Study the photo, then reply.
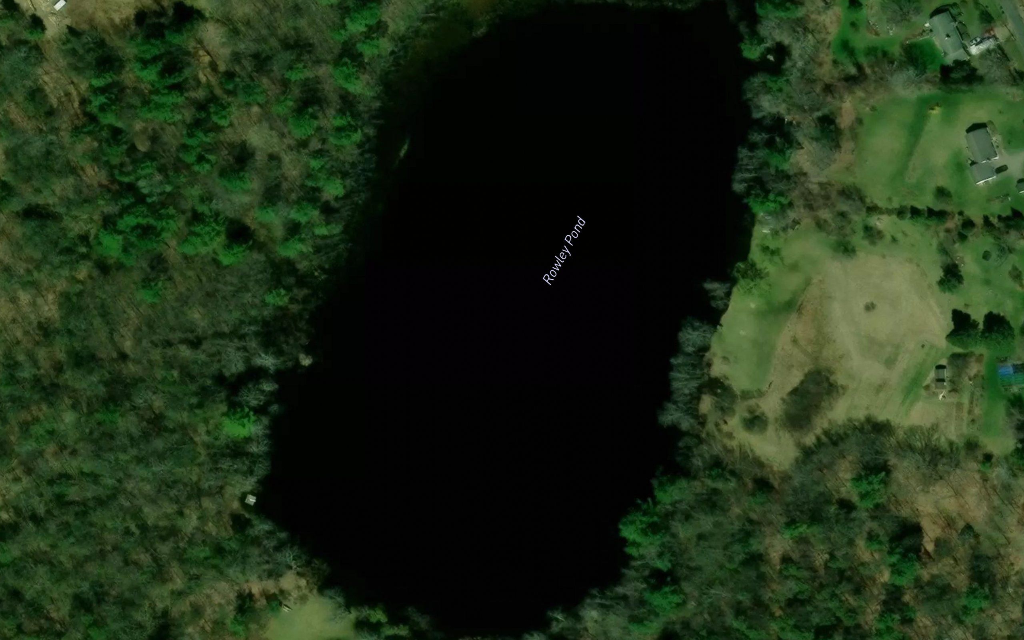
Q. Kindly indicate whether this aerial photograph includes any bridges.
No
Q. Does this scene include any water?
Yes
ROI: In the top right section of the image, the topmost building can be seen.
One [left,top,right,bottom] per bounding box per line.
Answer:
[928,8,970,61]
